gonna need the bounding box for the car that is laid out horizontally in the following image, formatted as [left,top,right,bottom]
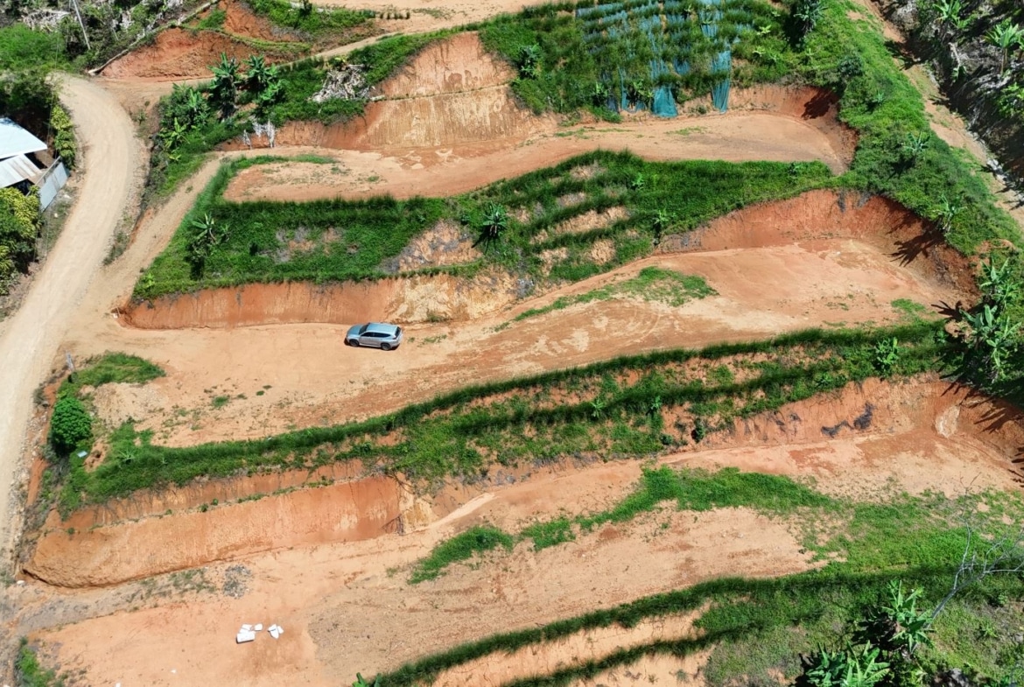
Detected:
[344,319,402,347]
